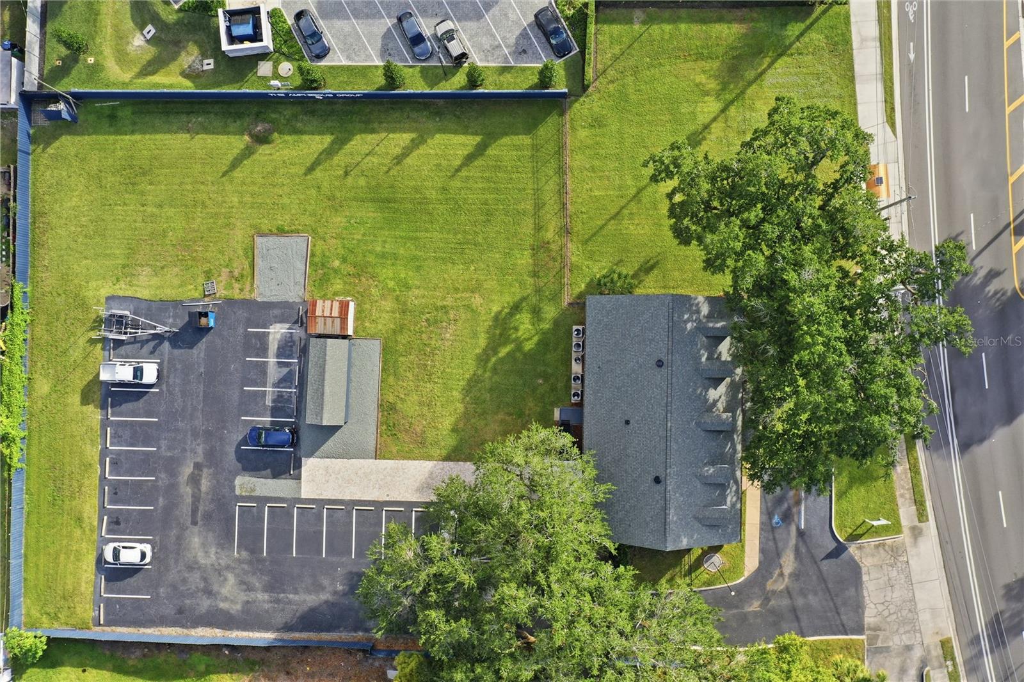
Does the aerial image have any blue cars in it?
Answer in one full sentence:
Yes, I can see a blue car in this picture.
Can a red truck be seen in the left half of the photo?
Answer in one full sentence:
No, there is no red truck in the left half of the photo.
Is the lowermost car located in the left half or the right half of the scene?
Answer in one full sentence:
It is on the left.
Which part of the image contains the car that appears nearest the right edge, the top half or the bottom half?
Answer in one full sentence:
The car that appears nearest the right edge sits in the top half of the picture.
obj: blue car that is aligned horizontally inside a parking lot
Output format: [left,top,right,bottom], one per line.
[248,425,298,449]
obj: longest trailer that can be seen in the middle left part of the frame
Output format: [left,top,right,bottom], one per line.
[85,305,178,339]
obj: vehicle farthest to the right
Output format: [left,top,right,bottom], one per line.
[535,7,572,58]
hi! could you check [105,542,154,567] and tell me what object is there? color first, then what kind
white car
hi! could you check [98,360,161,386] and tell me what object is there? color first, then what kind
white truck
